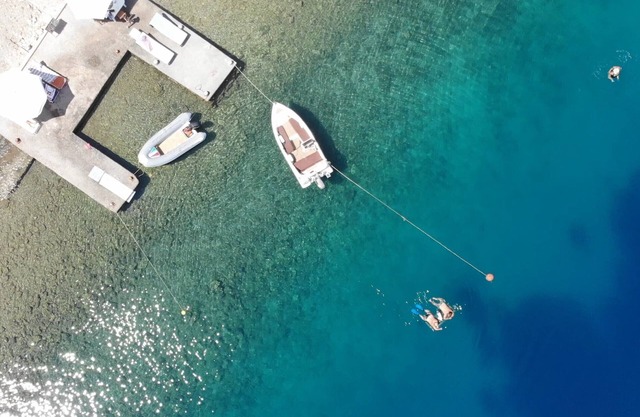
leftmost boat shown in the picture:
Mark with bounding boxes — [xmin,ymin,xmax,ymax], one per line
[139,112,208,166]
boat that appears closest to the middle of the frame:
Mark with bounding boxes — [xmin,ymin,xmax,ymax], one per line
[271,101,334,191]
